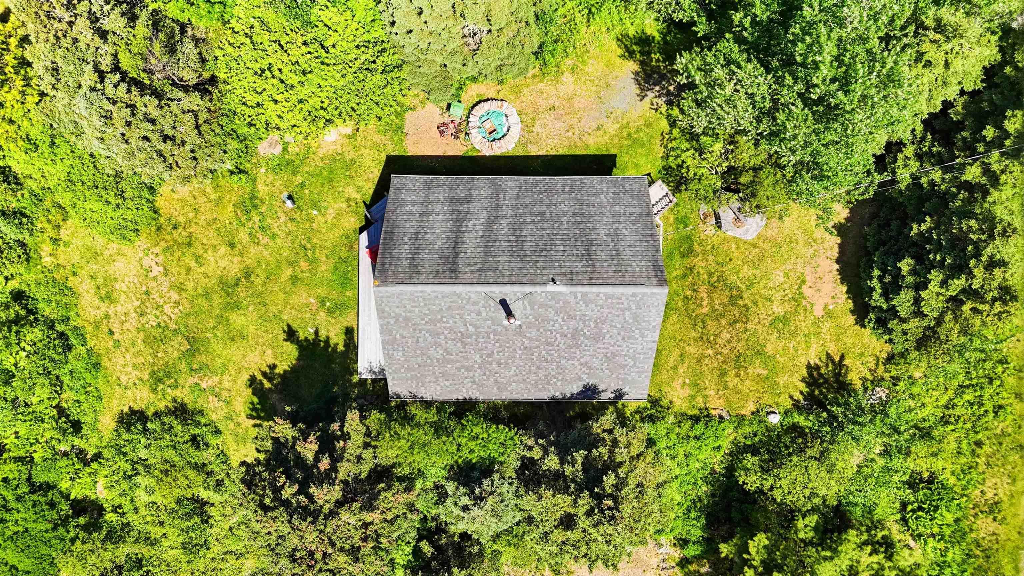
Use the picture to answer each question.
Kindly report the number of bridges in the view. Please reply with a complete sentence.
There are no bridges in the image.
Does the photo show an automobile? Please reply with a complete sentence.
No, this view has no automobile in it.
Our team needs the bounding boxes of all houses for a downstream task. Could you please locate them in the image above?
[373,172,667,402]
